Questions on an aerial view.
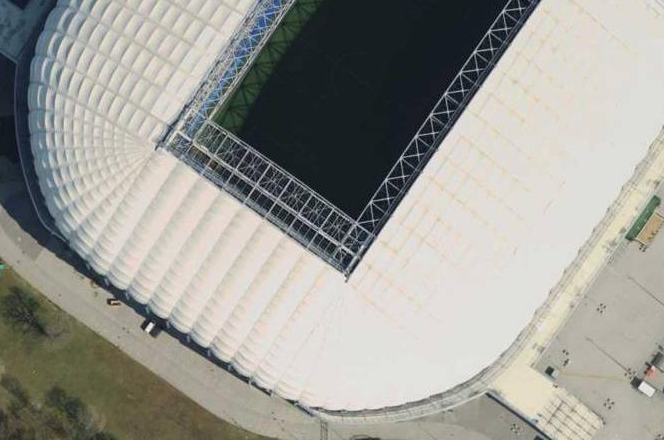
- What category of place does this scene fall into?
sports ground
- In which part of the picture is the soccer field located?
top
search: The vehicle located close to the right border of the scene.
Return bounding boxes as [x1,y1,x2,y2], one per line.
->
[639,381,657,397]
